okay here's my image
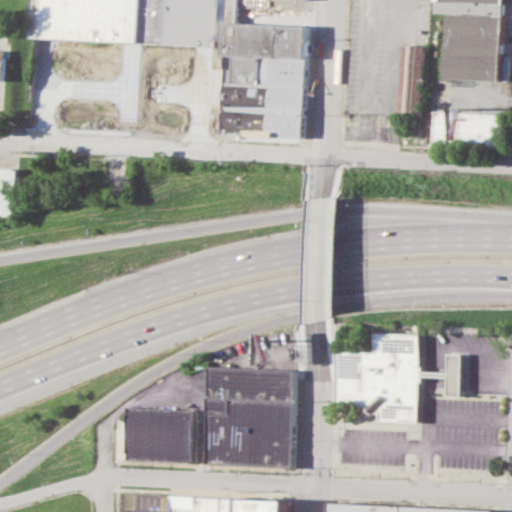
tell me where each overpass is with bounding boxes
[299,196,348,326]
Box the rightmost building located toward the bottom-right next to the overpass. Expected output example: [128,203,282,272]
[336,326,422,422]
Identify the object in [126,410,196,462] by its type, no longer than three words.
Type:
building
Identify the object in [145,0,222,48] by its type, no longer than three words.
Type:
building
